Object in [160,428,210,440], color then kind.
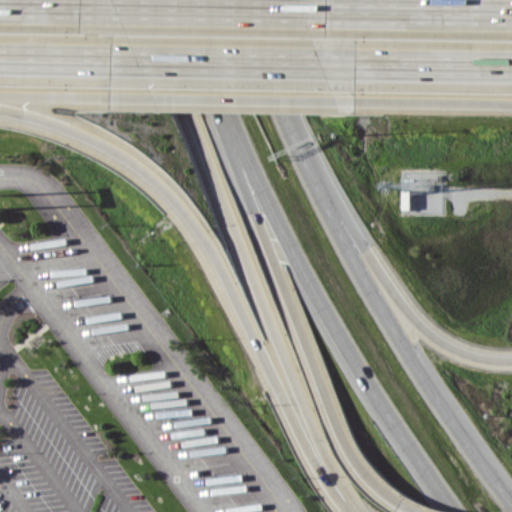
white vehicle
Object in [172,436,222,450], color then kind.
white vehicle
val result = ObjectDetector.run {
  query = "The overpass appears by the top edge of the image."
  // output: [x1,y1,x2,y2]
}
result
[112,0,341,116]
